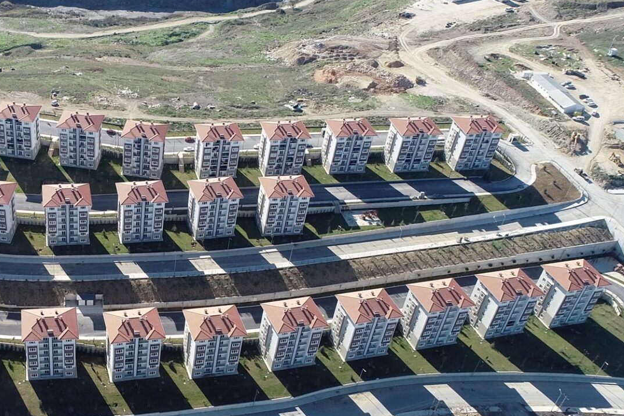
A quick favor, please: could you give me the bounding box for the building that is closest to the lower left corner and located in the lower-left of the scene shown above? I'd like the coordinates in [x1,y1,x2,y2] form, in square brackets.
[22,307,79,383]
